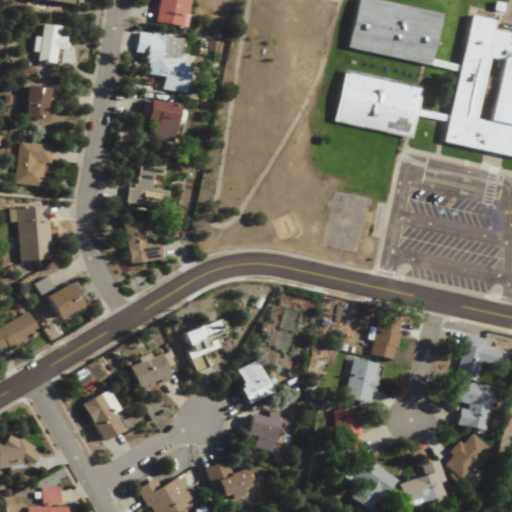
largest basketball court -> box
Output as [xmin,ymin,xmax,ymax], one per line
[324,192,368,252]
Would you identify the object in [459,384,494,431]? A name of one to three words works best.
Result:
house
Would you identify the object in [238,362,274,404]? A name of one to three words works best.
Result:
house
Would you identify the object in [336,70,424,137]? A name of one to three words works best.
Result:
building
